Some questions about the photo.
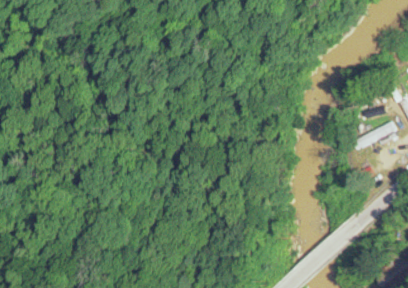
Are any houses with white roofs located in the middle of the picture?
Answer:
No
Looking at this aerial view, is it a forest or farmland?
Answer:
forest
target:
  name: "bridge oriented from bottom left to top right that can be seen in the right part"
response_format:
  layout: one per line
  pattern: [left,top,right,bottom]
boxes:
[276,217,364,288]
